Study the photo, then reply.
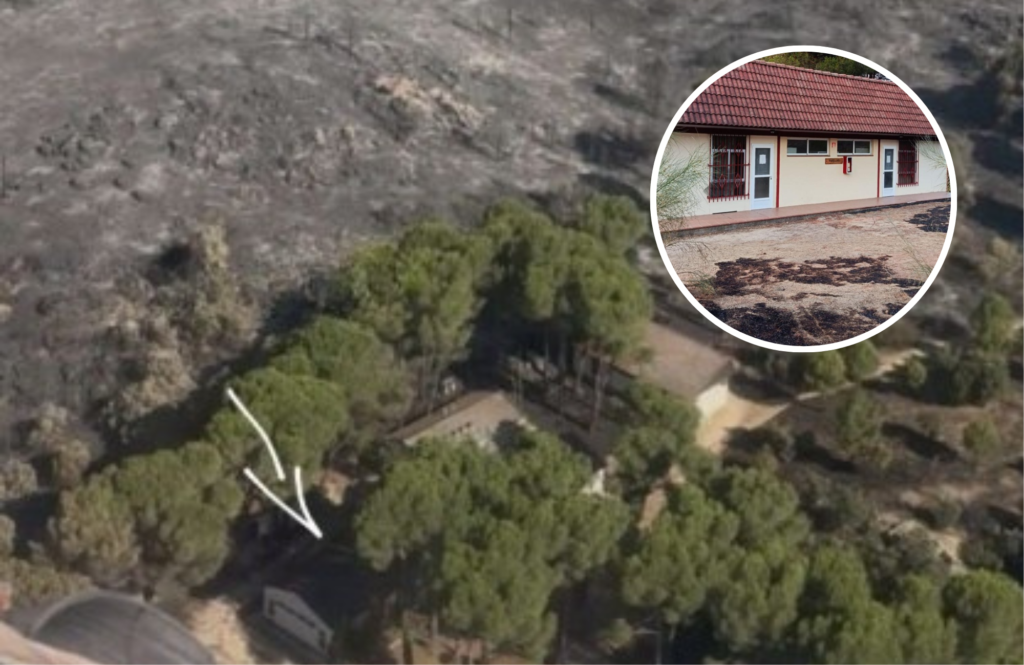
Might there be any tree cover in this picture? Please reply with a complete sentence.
Yes, some tree cover is visible.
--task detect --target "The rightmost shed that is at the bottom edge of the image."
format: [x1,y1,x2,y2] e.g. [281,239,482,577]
[262,576,342,654]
